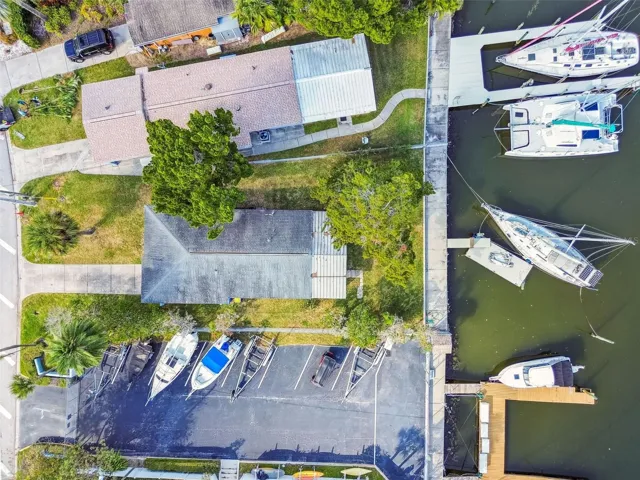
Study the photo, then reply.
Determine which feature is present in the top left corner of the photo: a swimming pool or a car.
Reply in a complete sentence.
Looking in the top left corner of the photo, you will find a car.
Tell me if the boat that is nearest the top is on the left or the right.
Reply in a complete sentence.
It is on the right.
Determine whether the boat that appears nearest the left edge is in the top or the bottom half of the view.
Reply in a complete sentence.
It is in the bottom half that the boat that appears nearest the left edge appears.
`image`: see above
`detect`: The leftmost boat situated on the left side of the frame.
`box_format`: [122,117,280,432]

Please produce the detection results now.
[124,339,153,385]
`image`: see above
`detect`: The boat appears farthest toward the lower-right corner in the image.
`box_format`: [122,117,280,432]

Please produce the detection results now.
[488,356,586,389]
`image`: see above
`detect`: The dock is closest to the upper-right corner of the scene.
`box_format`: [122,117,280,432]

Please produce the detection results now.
[449,20,640,108]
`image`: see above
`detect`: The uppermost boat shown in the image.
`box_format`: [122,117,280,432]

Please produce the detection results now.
[499,0,640,76]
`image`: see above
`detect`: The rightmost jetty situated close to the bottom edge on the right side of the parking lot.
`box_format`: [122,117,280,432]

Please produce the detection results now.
[475,383,594,480]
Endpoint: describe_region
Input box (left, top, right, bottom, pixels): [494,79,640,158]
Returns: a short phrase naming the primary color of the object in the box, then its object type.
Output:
white boat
